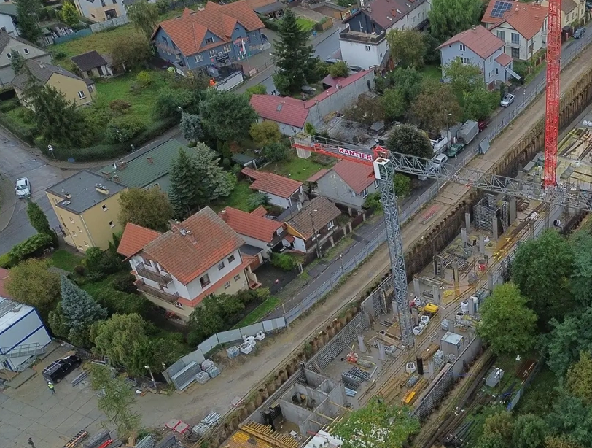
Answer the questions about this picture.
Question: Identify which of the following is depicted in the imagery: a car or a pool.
car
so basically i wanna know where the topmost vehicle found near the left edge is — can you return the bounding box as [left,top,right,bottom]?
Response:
[15,180,31,196]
